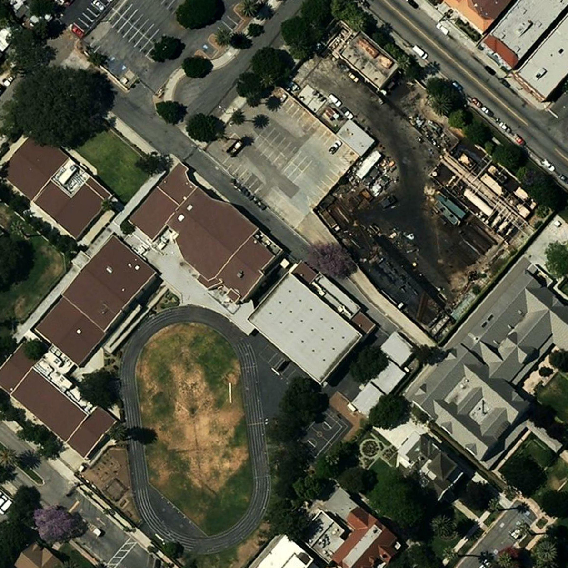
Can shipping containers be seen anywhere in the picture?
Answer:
Yes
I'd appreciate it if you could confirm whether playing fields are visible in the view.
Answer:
Yes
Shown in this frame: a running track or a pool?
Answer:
running track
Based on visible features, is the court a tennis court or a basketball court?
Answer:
basketball court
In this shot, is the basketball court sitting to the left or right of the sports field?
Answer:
to its right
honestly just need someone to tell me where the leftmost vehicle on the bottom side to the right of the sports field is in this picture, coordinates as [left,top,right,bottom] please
[277,357,290,372]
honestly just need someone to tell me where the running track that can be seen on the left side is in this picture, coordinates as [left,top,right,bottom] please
[121,307,269,553]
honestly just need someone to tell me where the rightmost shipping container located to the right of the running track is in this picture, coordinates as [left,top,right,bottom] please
[451,295,476,320]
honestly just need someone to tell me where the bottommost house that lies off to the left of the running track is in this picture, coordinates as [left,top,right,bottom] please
[15,542,64,568]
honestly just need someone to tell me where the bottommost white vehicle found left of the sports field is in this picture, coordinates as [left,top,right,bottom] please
[88,524,105,539]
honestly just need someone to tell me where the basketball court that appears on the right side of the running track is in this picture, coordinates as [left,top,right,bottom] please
[297,408,353,458]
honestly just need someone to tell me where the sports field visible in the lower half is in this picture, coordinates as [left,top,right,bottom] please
[138,325,251,536]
